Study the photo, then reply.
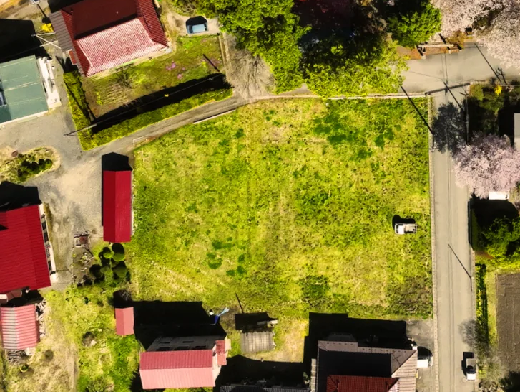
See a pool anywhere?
No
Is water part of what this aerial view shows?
No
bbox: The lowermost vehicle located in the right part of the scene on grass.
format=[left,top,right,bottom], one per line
[394,221,416,233]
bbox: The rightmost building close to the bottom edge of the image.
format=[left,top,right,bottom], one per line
[311,336,417,392]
